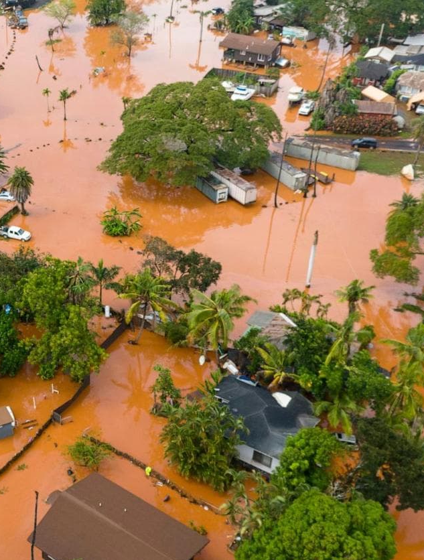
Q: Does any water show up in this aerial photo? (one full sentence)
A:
Yes, some water is visible.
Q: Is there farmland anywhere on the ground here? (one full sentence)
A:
No, no farmland is visible.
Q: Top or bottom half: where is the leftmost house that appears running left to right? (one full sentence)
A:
It is in the bottom half that the leftmost house that appears running left to right appears.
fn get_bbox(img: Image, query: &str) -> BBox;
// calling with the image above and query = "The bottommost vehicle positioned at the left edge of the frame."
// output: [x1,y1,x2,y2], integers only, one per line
[0,223,32,239]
